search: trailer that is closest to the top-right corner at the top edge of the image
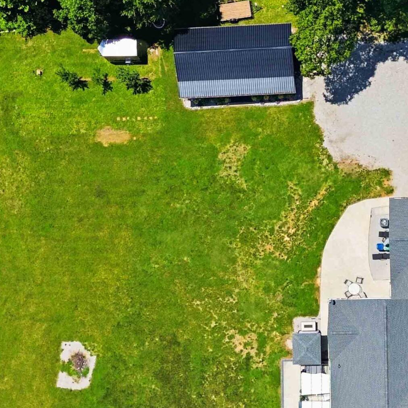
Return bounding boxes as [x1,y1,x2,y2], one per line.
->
[216,0,264,24]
